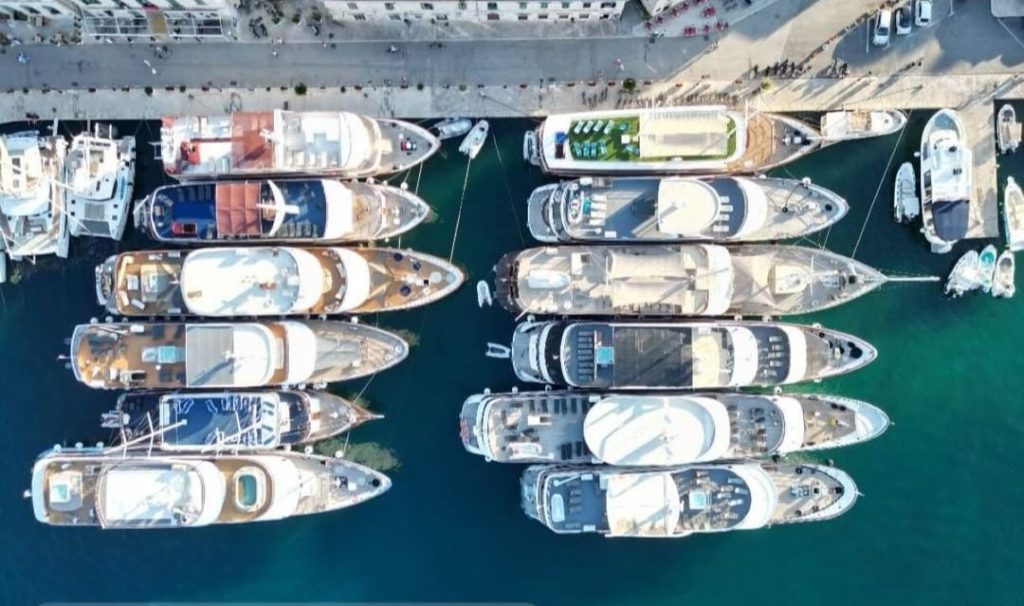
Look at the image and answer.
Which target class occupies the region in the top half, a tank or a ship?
ship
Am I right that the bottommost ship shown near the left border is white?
Yes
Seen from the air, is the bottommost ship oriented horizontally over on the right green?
No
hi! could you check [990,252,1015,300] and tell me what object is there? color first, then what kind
white boat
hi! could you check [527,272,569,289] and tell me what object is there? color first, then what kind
white boat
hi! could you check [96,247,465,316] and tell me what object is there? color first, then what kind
white ship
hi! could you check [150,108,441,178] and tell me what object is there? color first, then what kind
white ship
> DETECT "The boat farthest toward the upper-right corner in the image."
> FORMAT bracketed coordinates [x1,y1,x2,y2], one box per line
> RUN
[998,104,1023,154]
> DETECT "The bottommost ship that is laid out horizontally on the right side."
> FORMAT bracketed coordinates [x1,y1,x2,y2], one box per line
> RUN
[522,462,864,536]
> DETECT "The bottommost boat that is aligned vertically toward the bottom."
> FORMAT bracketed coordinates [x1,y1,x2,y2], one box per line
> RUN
[551,493,566,524]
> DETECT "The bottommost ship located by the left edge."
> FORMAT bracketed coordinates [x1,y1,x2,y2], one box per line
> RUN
[10,446,391,528]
